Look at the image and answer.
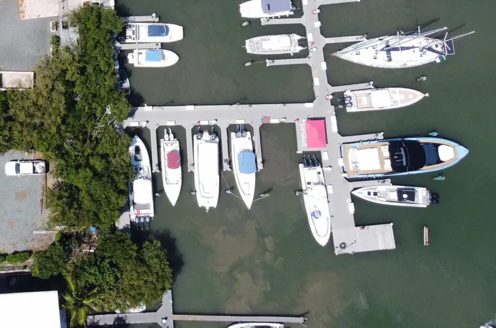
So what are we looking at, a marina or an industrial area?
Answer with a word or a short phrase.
marina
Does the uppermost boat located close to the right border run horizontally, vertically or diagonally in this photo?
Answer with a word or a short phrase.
horizontally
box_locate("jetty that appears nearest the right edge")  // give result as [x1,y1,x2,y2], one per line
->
[261,0,396,254]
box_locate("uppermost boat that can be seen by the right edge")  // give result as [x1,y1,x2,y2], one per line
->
[329,23,473,69]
